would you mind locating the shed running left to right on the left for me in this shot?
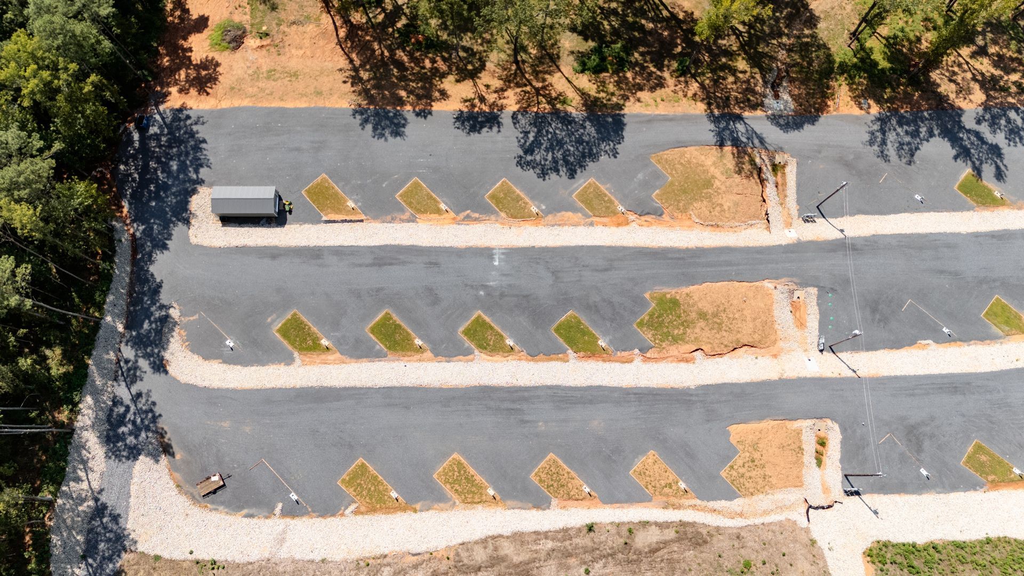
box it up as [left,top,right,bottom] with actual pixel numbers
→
[210,186,284,219]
